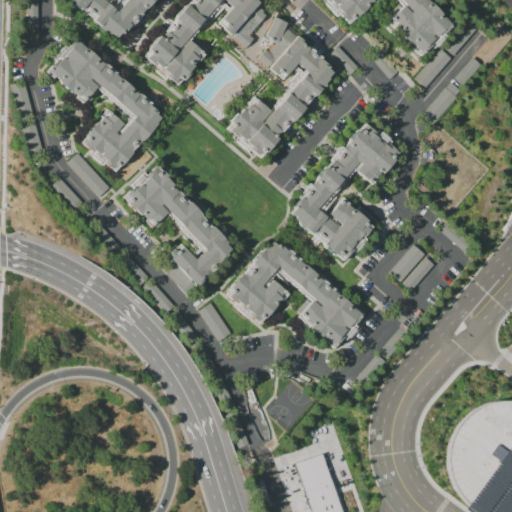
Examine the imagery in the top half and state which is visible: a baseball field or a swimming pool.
swimming pool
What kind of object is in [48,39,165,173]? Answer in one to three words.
building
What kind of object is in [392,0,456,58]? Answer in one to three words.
building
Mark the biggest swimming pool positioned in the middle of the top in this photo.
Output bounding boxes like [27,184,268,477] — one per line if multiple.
[188,49,254,122]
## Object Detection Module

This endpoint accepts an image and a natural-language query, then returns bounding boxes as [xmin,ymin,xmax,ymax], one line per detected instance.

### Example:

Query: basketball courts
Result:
[268,381,312,430]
